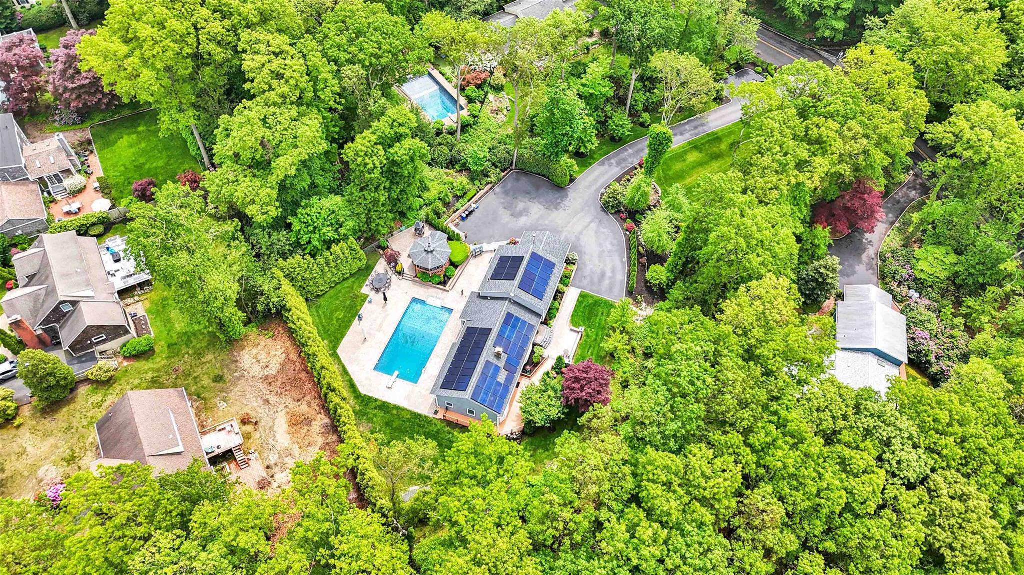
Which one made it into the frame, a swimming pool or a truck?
swimming pool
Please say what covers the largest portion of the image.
trees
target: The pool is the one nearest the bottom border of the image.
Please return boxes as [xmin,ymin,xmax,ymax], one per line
[371,294,456,386]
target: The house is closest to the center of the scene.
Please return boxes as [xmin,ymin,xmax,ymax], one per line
[428,229,572,425]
